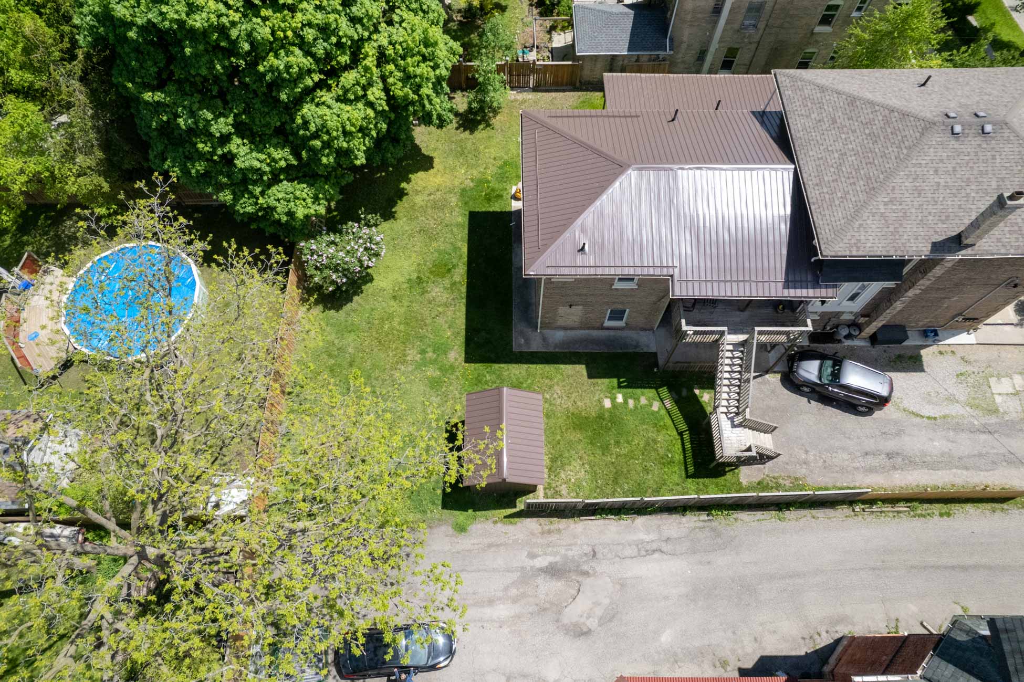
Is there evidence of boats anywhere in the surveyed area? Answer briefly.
No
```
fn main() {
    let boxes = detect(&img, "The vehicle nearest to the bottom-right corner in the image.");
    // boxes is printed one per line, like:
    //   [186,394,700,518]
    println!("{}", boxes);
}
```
[788,352,892,414]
